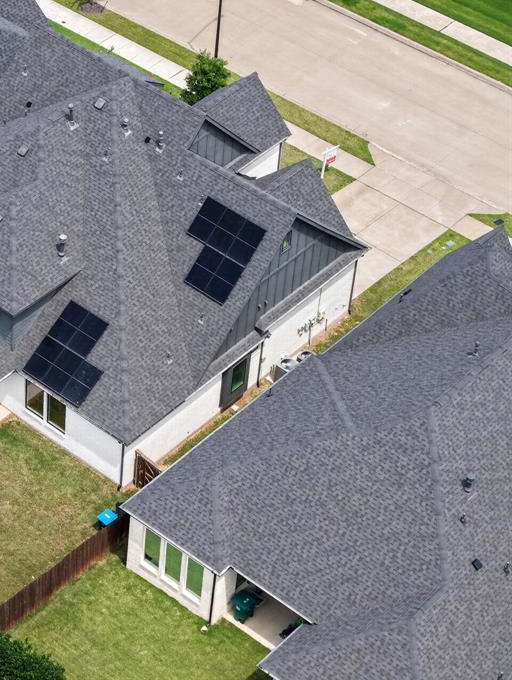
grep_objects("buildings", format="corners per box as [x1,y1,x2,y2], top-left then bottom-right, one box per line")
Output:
[0,23,369,492]
[119,225,512,680]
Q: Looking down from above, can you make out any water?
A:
No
